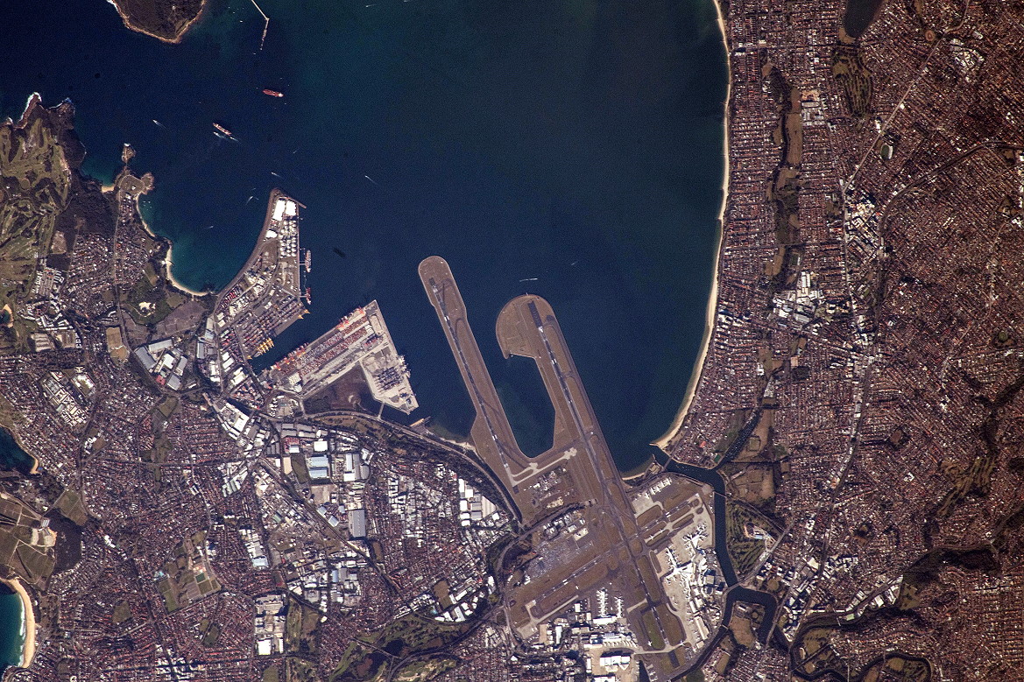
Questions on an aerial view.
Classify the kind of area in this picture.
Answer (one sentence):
This image shows a port.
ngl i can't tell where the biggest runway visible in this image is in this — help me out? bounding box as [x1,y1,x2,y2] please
[528,301,681,669]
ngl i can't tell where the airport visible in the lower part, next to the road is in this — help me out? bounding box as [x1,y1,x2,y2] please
[418,256,726,682]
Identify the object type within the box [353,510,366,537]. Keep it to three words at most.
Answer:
building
